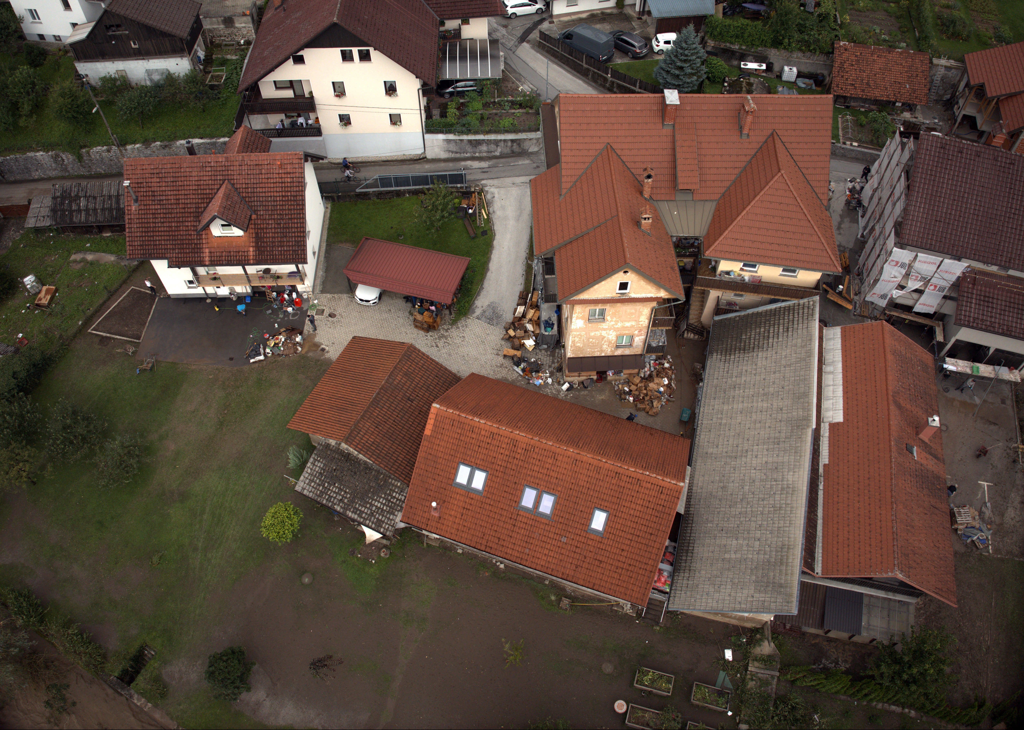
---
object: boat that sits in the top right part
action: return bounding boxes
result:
[742,2,769,18]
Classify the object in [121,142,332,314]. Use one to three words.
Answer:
house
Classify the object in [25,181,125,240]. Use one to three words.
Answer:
shed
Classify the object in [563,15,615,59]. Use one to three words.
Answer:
van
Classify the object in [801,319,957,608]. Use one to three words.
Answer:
barn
